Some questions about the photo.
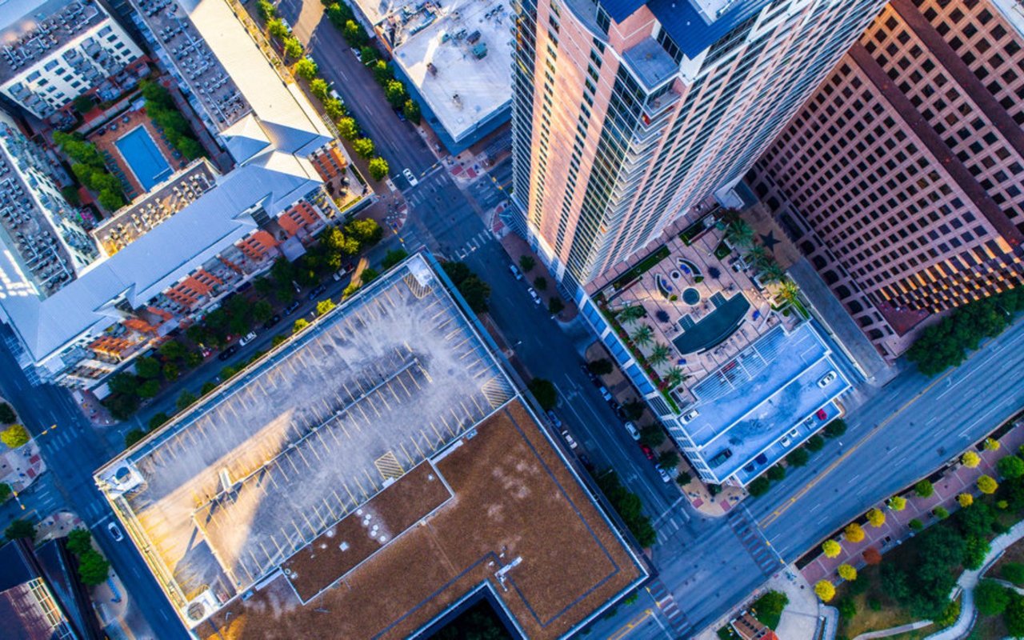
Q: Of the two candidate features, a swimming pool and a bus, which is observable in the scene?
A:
swimming pool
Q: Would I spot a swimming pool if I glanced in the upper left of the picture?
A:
Yes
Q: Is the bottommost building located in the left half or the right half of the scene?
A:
right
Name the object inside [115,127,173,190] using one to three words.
swimming pool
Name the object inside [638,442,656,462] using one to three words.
car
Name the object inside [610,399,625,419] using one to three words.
car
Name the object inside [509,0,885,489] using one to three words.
building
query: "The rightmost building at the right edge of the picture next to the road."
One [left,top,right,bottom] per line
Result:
[742,0,1024,362]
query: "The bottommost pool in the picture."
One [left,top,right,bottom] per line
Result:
[672,291,751,354]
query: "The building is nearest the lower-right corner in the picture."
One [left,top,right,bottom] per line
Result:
[728,610,777,640]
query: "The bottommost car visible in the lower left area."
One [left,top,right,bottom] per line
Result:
[108,521,125,542]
